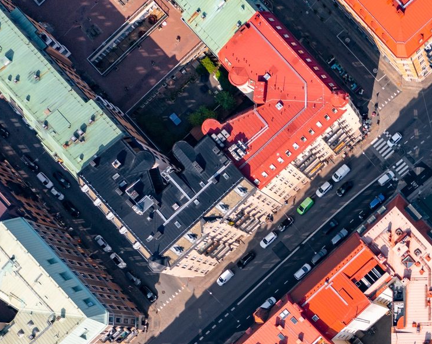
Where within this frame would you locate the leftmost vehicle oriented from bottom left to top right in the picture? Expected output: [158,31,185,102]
[215,265,237,289]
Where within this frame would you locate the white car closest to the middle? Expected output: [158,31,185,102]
[260,230,278,249]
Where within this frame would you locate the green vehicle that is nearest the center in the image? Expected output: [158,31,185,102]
[295,193,317,218]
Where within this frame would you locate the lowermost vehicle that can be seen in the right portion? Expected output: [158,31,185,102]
[259,295,278,312]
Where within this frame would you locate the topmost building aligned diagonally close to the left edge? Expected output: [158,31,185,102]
[0,0,148,176]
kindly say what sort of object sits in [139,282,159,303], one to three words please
car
